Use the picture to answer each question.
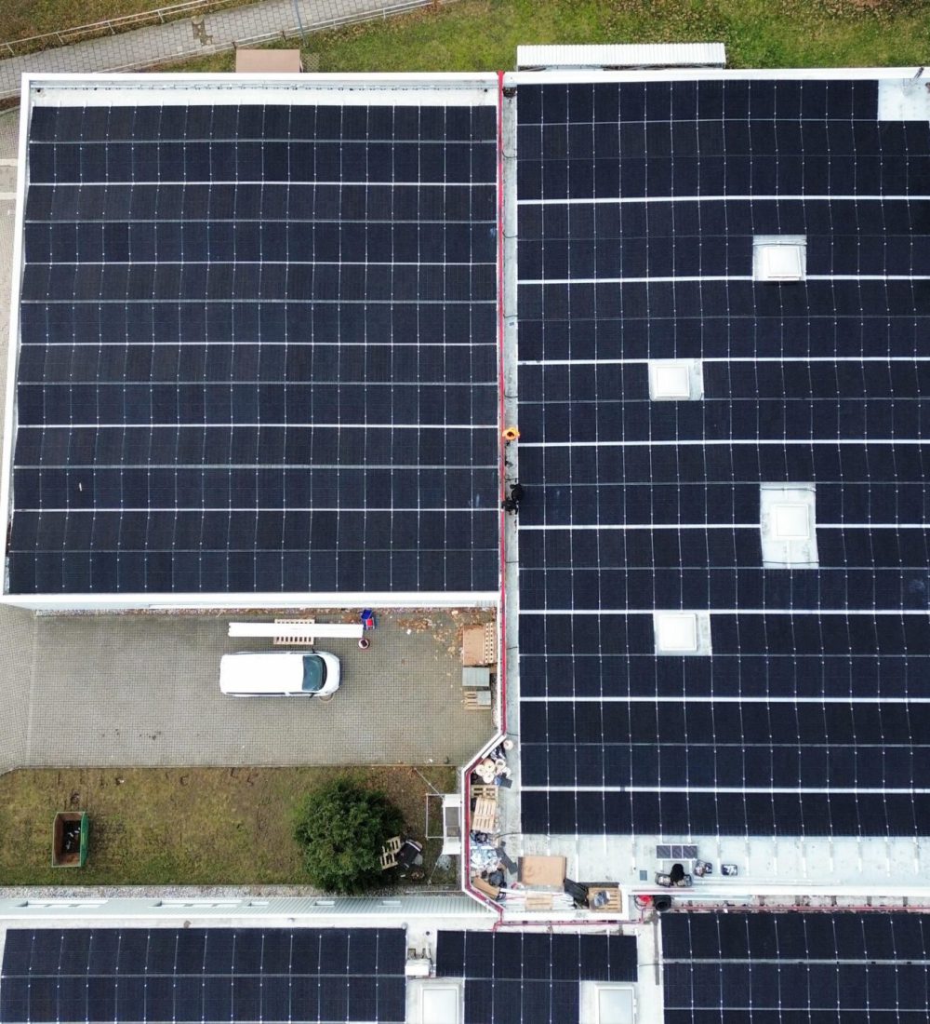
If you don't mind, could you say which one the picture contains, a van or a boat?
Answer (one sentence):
The image shows a van.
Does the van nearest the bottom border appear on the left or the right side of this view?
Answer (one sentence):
The van nearest the bottom border sits on the left side.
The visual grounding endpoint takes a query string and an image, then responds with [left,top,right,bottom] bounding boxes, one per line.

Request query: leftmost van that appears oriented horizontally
[220,646,343,700]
